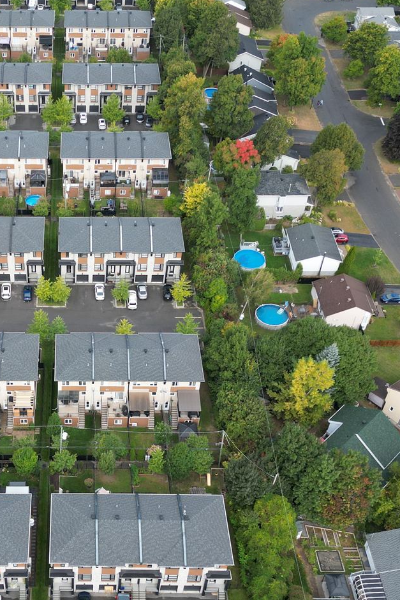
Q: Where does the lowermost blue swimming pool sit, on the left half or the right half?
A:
right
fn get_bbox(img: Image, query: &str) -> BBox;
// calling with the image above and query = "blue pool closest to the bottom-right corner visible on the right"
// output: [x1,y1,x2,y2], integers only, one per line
[254,303,290,331]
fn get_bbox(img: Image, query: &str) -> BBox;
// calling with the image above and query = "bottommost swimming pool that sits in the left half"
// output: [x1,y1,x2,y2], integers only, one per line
[25,195,41,208]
